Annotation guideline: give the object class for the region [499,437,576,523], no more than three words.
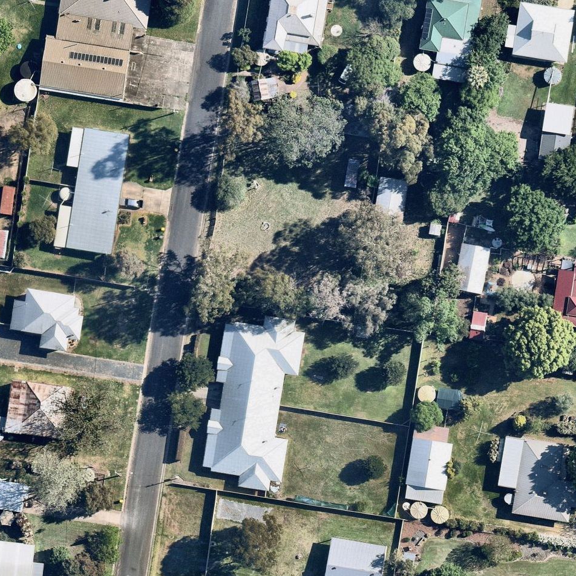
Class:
house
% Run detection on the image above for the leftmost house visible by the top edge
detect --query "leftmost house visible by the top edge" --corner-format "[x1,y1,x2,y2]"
[40,0,151,101]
